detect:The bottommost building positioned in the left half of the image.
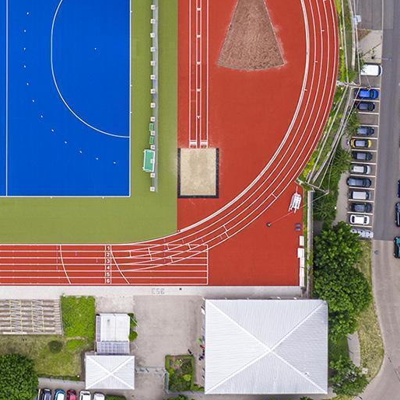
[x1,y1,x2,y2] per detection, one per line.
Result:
[84,354,136,391]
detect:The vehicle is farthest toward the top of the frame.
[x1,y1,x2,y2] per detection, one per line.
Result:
[357,64,384,77]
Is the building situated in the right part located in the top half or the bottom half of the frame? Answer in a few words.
bottom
